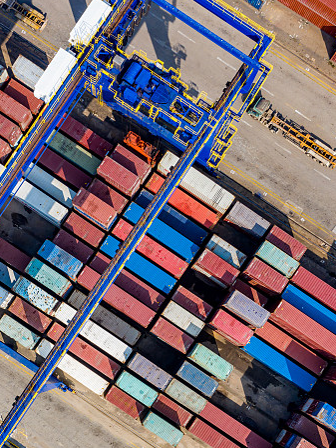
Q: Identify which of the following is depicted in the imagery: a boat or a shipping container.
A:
shipping container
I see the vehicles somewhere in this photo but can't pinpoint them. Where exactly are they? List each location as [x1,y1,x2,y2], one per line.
[0,0,47,36]
[249,94,336,169]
